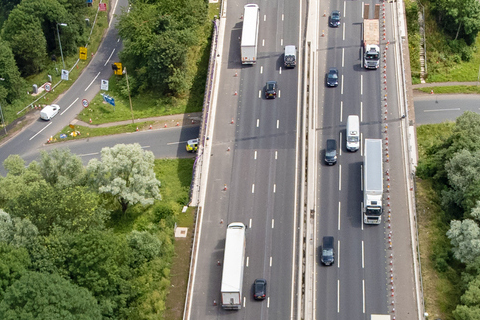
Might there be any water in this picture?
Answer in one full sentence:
No, there is no water in the image.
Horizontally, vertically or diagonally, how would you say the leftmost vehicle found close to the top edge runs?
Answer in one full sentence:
Seen from above, the leftmost vehicle found close to the top edge lies vertically.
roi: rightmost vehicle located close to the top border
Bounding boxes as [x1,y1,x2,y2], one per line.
[364,1,382,68]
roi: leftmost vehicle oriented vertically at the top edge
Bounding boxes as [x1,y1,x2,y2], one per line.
[241,3,261,63]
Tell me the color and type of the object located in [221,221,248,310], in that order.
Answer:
white truck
